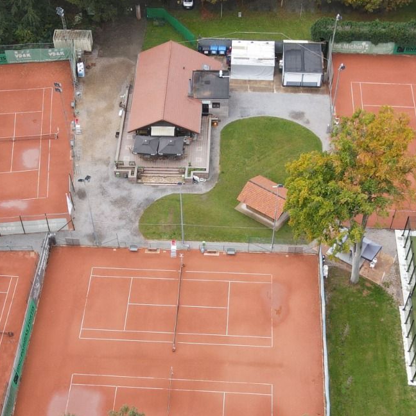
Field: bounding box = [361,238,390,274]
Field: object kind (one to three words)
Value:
tent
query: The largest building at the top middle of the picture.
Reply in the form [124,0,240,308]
[127,39,234,137]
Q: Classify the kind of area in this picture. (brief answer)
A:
sports ground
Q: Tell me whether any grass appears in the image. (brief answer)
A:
Yes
